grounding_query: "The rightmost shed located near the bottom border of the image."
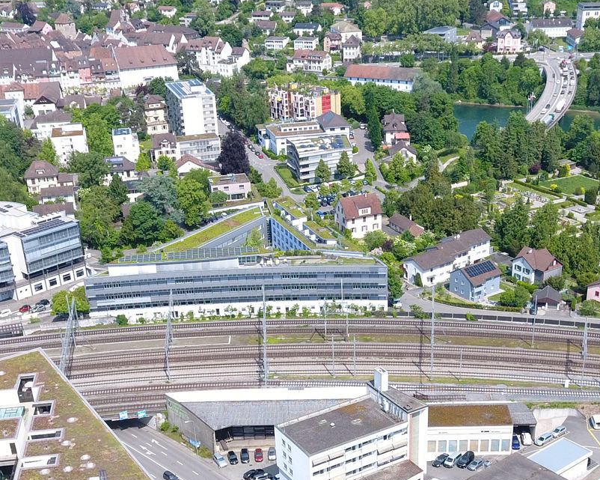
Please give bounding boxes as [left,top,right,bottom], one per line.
[528,437,593,480]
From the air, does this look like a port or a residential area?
residential area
